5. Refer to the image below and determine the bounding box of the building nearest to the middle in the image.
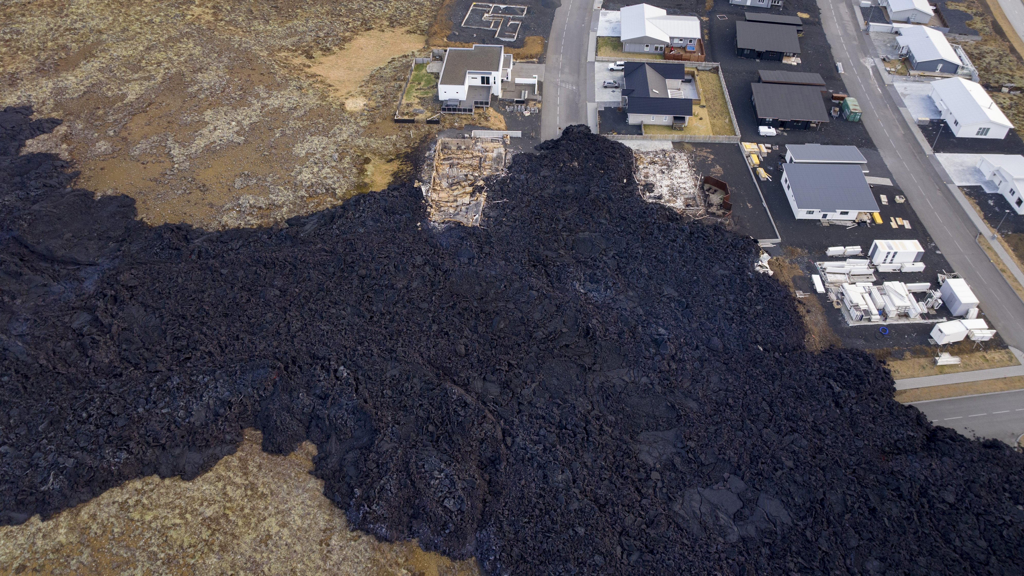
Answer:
[427,136,510,228]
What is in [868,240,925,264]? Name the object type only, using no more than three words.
building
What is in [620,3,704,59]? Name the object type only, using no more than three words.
house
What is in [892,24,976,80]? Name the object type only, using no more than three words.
house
